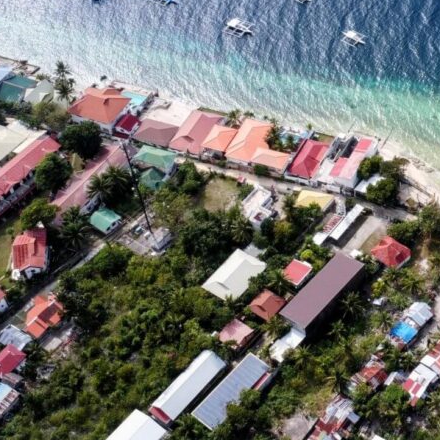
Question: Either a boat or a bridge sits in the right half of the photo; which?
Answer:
boat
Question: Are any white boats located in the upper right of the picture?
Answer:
Yes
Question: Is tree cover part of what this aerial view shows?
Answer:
Yes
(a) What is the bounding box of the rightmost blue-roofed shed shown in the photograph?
[391,318,418,345]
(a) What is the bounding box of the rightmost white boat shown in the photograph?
[341,32,368,49]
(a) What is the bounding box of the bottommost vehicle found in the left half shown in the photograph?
[129,224,147,238]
